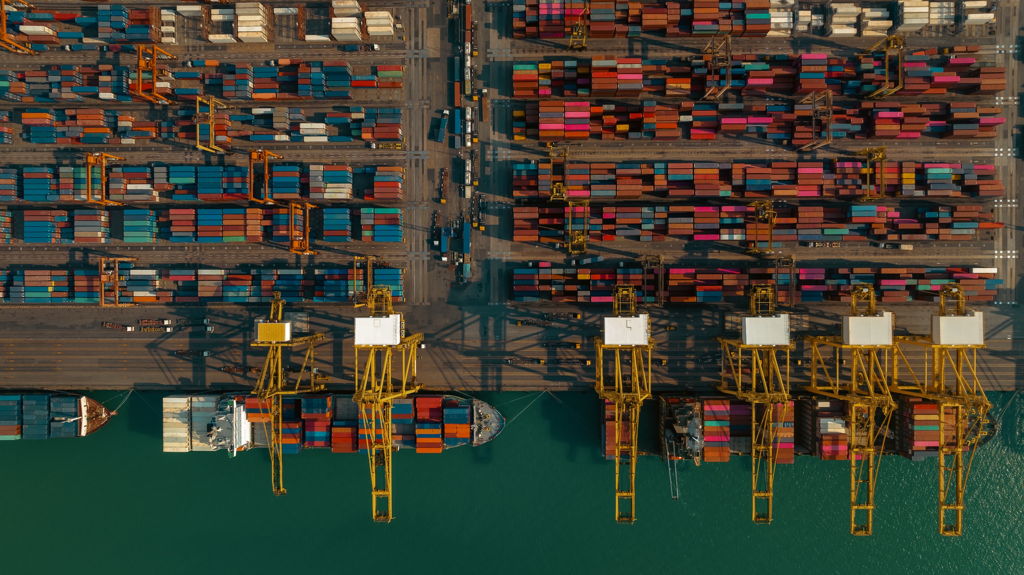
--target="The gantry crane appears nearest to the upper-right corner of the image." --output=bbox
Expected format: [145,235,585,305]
[861,37,906,99]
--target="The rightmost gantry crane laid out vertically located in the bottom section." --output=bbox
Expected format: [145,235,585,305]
[866,279,996,538]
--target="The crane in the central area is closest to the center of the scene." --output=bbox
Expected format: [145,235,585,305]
[564,202,590,254]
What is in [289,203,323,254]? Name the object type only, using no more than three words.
container crane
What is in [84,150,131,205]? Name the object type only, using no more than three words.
container crane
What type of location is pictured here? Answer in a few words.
port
